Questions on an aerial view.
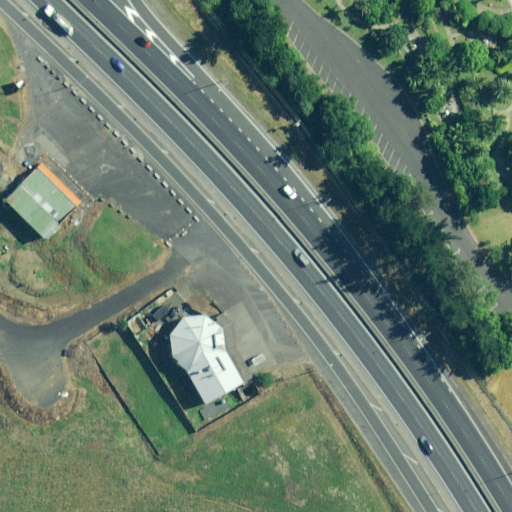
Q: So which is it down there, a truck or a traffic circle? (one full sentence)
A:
The image shows a truck.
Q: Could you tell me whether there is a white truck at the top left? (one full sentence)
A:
Yes, there is a white truck at the top left.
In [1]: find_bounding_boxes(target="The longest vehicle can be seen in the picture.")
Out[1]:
[42,2,76,36]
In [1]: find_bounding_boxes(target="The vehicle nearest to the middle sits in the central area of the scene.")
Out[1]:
[295,250,309,265]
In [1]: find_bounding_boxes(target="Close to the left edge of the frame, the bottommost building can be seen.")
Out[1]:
[2,162,81,239]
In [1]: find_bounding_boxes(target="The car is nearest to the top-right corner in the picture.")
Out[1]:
[282,184,296,199]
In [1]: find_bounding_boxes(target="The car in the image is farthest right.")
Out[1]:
[420,438,432,454]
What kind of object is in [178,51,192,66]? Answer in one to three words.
car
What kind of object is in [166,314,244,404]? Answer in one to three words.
house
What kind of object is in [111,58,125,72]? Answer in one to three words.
car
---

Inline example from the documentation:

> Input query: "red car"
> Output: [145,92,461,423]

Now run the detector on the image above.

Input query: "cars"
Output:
[111,58,125,72]
[295,250,309,265]
[178,51,192,66]
[139,36,152,50]
[420,438,432,454]
[282,184,296,199]
[168,306,181,317]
